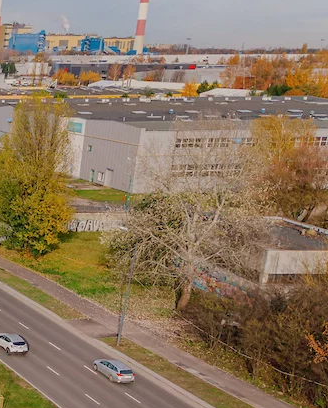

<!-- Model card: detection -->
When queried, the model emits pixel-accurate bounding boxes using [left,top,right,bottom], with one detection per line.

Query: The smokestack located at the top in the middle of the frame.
[134,0,148,53]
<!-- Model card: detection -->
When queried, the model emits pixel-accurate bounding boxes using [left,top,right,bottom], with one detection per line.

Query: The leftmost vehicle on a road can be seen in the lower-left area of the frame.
[0,333,33,355]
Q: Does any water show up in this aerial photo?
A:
No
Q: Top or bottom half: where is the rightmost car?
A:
bottom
